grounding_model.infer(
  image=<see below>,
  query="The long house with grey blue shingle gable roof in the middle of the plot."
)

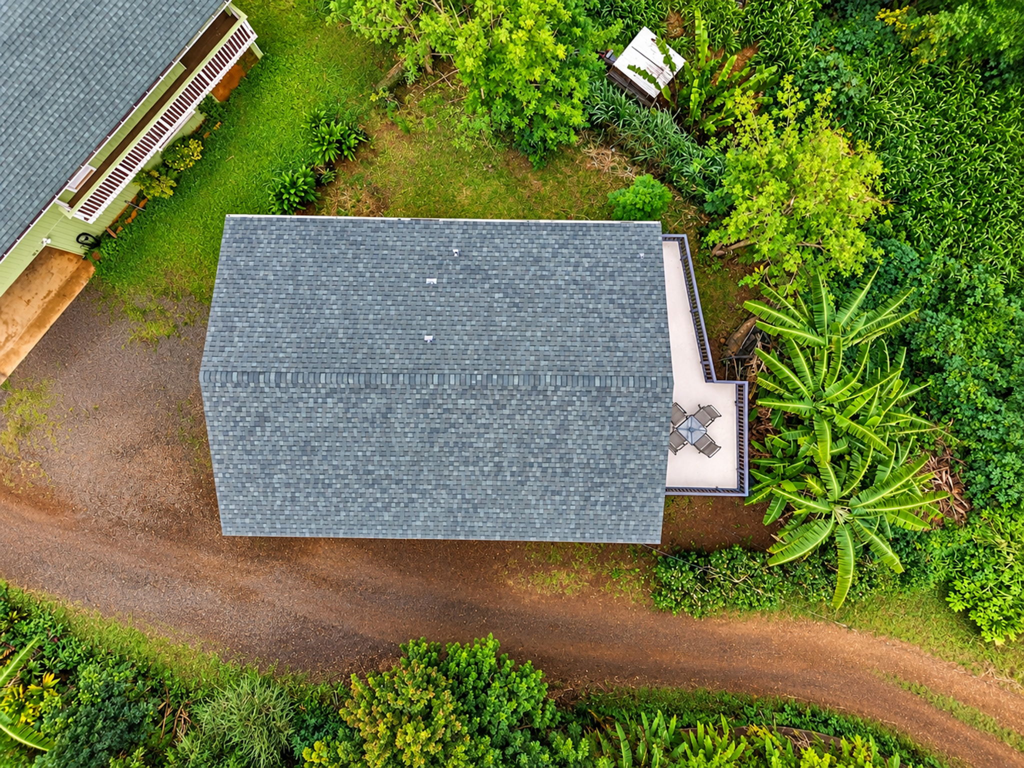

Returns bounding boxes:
[199,213,751,544]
